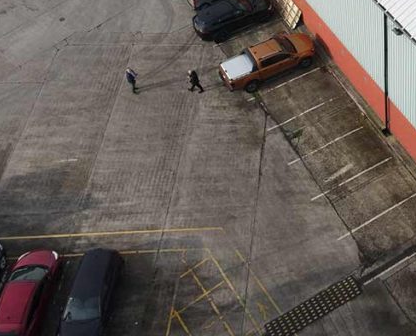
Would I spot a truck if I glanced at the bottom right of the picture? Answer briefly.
No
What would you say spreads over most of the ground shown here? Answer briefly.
paved ground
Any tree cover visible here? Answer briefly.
No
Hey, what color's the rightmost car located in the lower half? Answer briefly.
black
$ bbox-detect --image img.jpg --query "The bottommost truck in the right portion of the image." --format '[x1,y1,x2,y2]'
[219,30,316,95]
